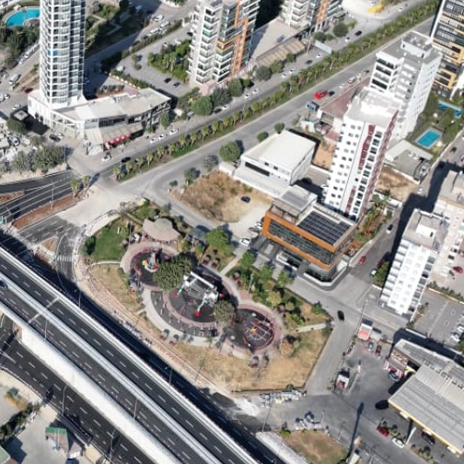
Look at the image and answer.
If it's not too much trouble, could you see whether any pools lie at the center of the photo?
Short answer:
No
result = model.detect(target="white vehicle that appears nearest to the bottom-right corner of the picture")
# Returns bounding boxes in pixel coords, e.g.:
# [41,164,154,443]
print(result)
[388,437,406,451]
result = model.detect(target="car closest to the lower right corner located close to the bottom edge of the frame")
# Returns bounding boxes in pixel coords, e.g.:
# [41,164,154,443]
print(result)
[419,431,436,445]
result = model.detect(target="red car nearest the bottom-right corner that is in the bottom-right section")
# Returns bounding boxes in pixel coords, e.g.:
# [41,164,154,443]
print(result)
[374,425,390,438]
